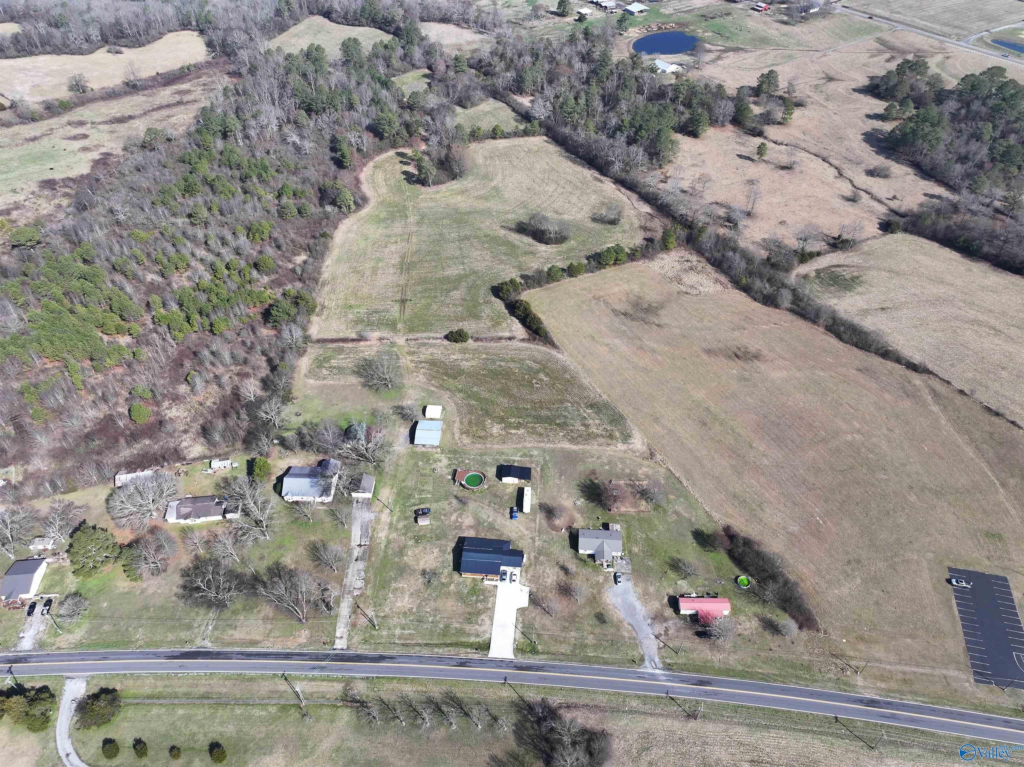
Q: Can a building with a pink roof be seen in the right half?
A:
Yes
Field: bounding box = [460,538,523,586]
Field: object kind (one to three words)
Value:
house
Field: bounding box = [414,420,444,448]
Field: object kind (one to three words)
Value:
barn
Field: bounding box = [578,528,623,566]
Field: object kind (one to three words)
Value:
house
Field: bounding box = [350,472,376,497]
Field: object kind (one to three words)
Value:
building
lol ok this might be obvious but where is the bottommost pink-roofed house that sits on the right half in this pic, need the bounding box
[678,597,731,628]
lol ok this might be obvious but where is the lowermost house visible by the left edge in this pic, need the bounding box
[0,558,53,610]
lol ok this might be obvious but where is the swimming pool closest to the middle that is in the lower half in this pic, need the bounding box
[456,468,487,492]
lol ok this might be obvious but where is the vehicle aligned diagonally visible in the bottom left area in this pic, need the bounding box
[37,598,55,615]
